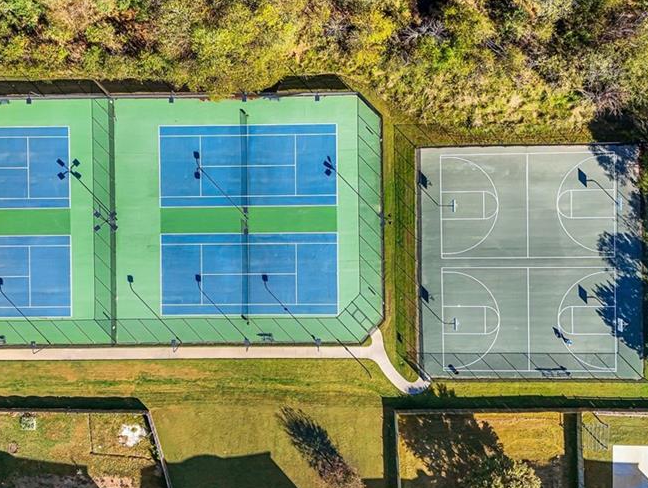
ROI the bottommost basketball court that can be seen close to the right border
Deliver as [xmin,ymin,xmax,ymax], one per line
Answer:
[441,267,619,373]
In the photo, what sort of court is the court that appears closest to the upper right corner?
basketball court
